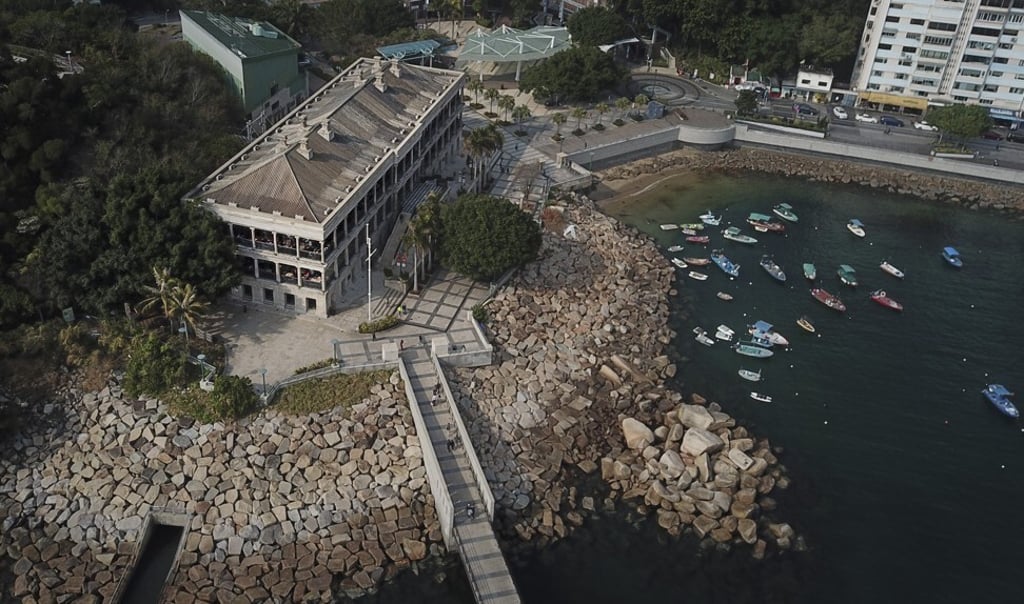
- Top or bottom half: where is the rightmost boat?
bottom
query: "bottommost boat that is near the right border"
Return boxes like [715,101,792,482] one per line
[979,384,1020,417]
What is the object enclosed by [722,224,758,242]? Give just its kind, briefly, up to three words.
boat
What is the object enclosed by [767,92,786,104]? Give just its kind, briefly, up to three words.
vehicle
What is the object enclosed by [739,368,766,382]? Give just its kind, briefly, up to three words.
boat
